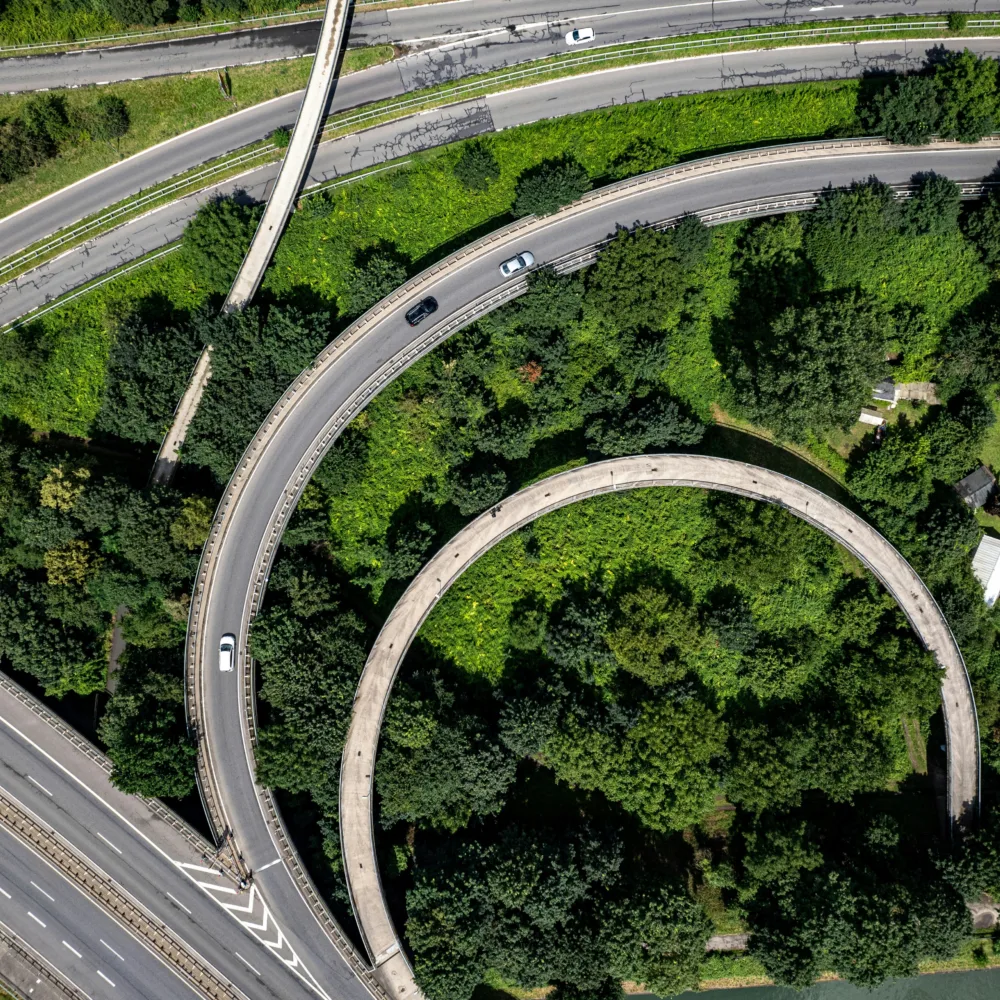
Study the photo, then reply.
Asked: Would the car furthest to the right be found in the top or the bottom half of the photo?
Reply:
top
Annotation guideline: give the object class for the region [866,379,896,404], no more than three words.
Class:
shed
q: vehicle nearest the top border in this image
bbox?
[565,24,597,45]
